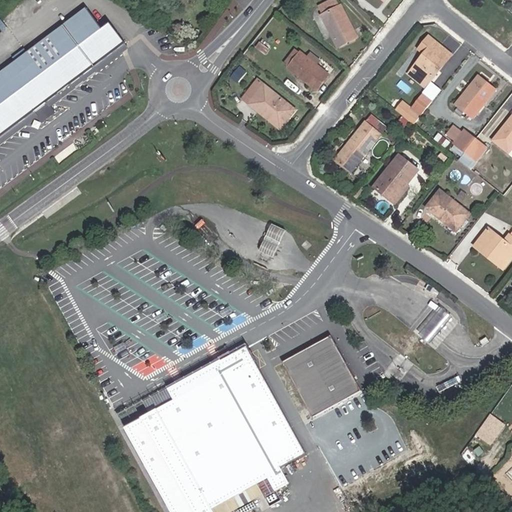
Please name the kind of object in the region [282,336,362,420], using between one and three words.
building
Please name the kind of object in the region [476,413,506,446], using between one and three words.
shed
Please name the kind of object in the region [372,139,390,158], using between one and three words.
swimming pool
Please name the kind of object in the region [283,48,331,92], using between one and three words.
house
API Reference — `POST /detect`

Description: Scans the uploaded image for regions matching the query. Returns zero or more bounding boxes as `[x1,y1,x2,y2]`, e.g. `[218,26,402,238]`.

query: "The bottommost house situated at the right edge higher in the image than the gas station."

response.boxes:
[472,225,512,272]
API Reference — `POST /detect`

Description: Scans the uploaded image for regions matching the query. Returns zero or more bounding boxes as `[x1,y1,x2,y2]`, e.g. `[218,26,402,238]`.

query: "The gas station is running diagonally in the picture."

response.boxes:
[350,276,510,368]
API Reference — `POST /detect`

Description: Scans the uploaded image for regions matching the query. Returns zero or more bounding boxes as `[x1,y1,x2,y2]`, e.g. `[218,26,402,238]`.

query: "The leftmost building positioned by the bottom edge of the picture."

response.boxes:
[119,346,304,512]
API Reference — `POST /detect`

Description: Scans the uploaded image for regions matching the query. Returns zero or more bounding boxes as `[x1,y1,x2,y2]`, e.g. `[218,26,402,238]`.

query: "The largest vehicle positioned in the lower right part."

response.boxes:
[436,375,462,392]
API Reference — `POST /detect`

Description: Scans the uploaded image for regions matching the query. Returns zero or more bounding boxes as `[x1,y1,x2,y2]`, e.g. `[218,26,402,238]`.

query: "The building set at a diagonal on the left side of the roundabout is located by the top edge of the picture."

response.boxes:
[0,7,124,138]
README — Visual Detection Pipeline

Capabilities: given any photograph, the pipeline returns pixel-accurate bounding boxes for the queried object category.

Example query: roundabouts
[148,60,208,120]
